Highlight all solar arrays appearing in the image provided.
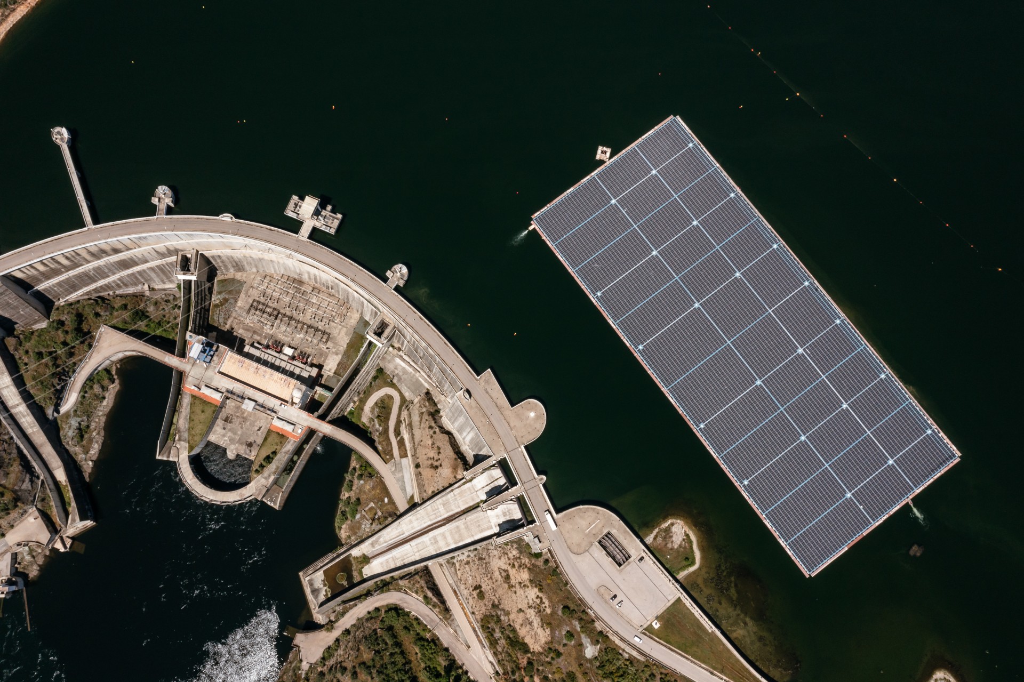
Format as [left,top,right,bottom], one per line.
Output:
[530,115,962,579]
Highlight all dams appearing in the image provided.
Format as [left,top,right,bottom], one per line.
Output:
[0,215,477,397]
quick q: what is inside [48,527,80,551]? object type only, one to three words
building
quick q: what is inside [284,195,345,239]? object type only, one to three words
building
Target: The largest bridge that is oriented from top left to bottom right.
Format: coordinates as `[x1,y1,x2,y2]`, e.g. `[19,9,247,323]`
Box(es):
[307,416,410,511]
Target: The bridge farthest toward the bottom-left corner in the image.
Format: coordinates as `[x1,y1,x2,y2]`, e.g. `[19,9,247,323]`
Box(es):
[59,325,187,415]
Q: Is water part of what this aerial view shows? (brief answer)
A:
Yes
